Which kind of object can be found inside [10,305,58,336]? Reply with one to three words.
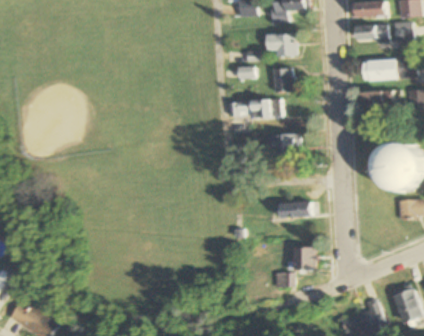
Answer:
house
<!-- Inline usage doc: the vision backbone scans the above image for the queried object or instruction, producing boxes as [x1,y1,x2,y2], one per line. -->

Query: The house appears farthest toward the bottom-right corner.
[393,285,424,328]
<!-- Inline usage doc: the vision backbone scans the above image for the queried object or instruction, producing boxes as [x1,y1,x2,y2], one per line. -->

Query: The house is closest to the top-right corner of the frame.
[400,0,423,18]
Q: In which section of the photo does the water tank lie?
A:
right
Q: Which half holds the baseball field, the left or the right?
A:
left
